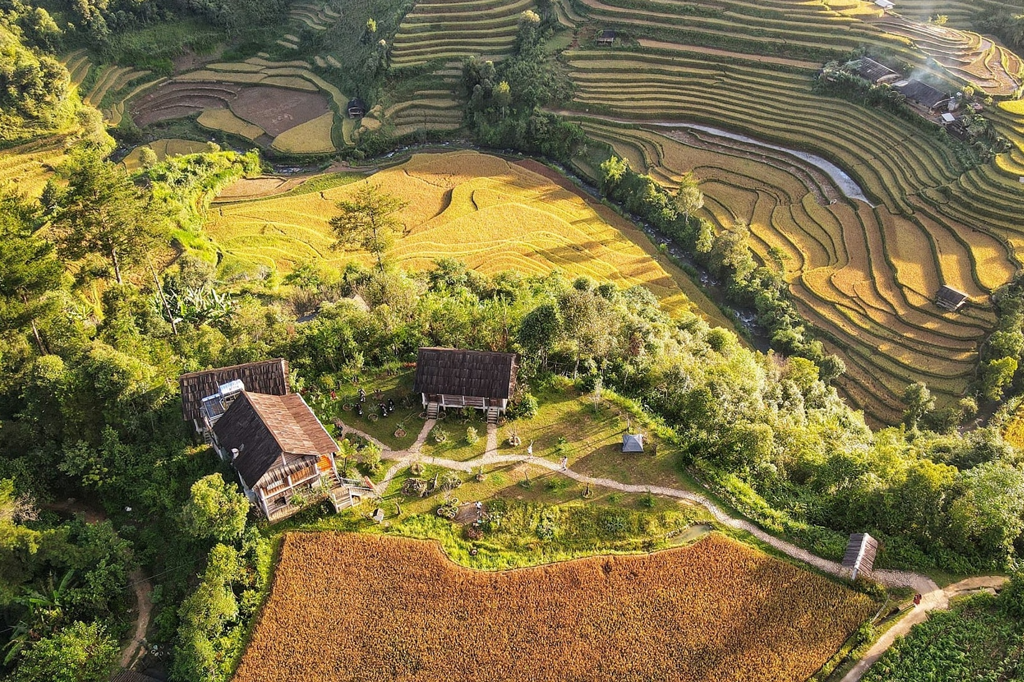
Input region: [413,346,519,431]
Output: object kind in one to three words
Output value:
house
